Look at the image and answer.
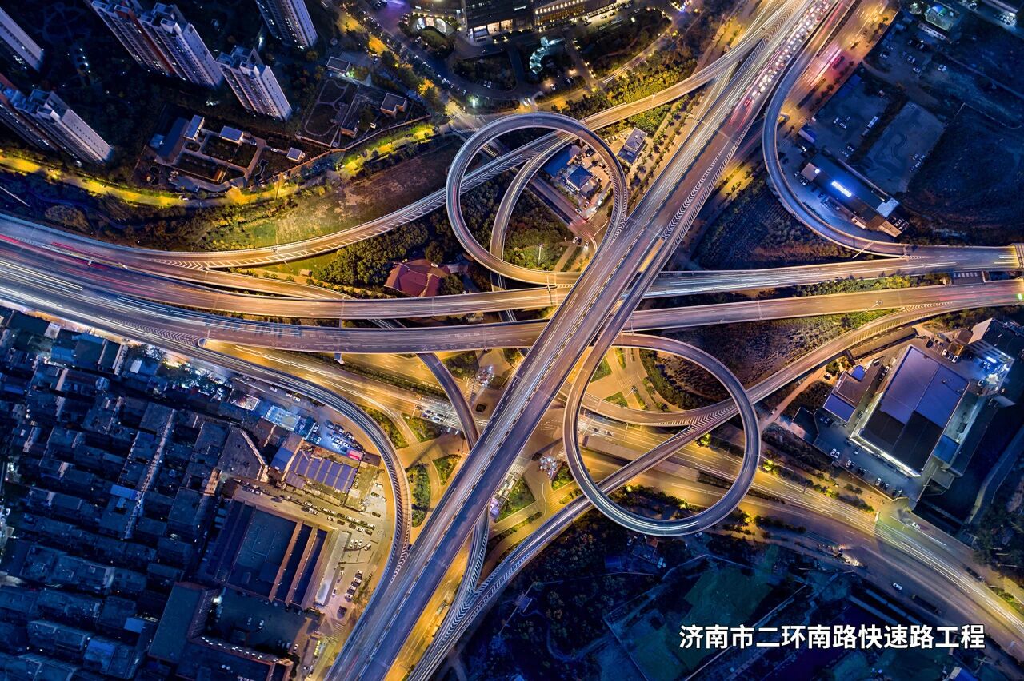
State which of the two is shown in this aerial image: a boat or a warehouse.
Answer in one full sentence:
It is a warehouse that can be seen here.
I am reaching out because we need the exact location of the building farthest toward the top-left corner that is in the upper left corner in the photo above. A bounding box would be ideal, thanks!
[0,3,49,72]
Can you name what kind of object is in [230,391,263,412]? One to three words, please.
house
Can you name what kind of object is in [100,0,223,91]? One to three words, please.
building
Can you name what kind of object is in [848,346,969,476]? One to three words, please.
warehouse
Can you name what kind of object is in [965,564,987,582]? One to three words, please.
vehicle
